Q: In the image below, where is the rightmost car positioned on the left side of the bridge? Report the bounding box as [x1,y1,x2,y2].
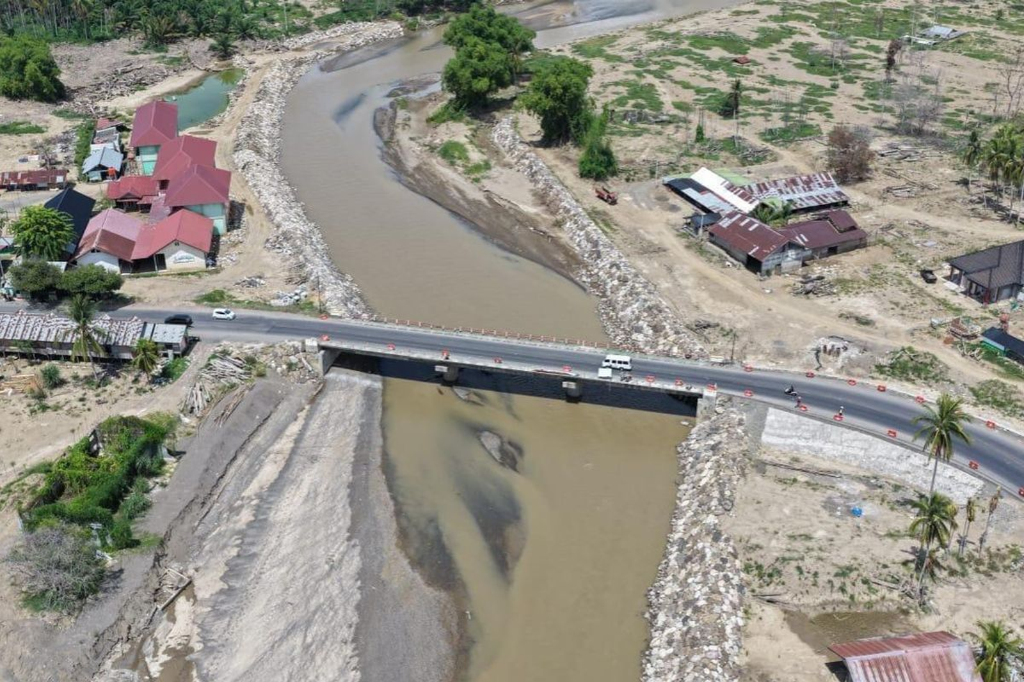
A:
[208,307,238,322]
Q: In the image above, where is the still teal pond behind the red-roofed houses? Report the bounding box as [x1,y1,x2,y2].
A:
[178,70,245,131]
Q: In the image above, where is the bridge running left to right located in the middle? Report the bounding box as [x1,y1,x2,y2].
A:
[296,313,724,415]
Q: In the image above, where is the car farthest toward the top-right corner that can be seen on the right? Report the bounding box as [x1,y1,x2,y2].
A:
[918,269,941,284]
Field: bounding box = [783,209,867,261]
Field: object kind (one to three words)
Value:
shed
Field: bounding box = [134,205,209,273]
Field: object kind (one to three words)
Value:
house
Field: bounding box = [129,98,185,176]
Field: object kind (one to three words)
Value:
house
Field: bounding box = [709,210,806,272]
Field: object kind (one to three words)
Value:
barn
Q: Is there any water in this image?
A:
Yes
